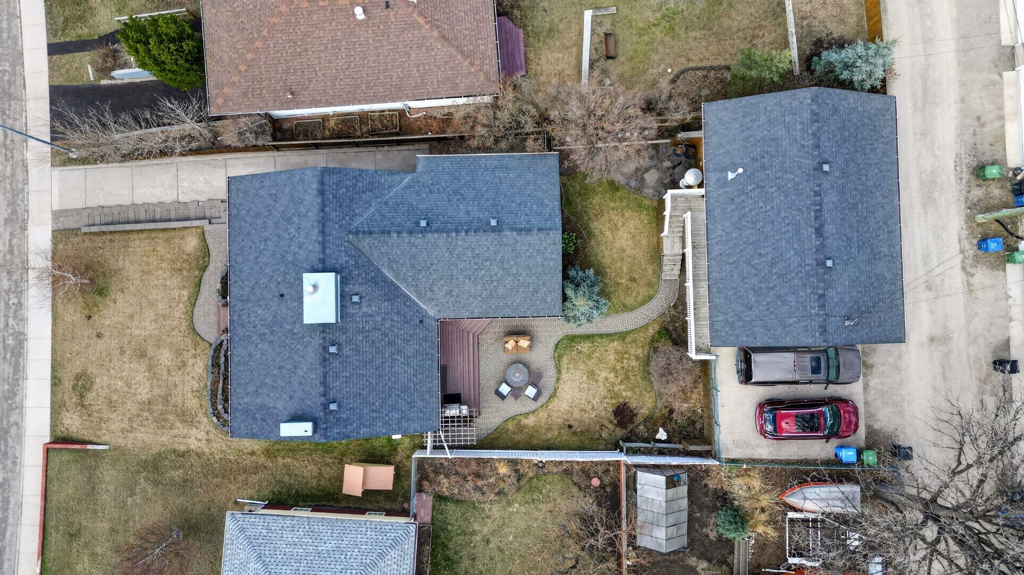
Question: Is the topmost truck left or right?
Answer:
right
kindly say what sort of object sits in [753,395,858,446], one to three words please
car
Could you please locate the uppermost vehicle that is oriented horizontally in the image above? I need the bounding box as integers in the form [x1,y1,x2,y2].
[730,344,860,395]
